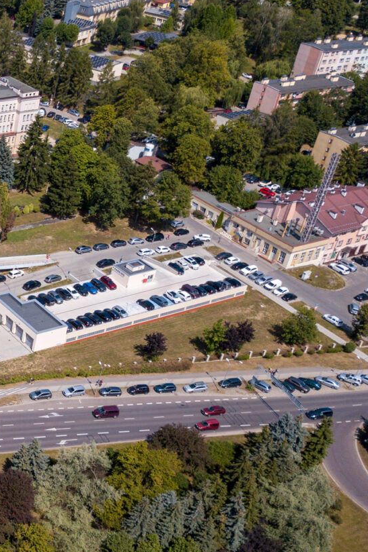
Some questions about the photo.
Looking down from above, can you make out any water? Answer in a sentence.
No, the scene doesn't show any water.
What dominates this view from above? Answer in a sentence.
The bulk of the photo consists of trees.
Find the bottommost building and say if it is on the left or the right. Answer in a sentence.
The bottommost building appears in the left half of the scene.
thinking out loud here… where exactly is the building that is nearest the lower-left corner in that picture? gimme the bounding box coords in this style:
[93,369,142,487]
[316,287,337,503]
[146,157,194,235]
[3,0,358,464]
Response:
[0,291,68,351]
